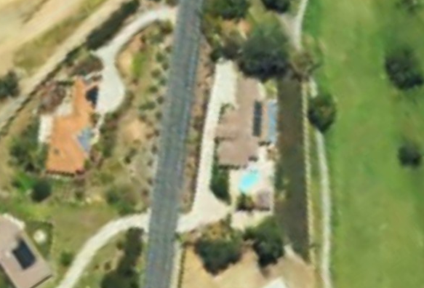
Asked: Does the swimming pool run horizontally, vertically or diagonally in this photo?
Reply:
diagonally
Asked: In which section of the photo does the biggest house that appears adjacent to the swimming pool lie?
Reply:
center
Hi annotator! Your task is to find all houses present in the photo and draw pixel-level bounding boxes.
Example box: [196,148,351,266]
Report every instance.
[216,76,277,167]
[49,74,101,174]
[0,215,51,288]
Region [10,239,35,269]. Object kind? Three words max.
solar panel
